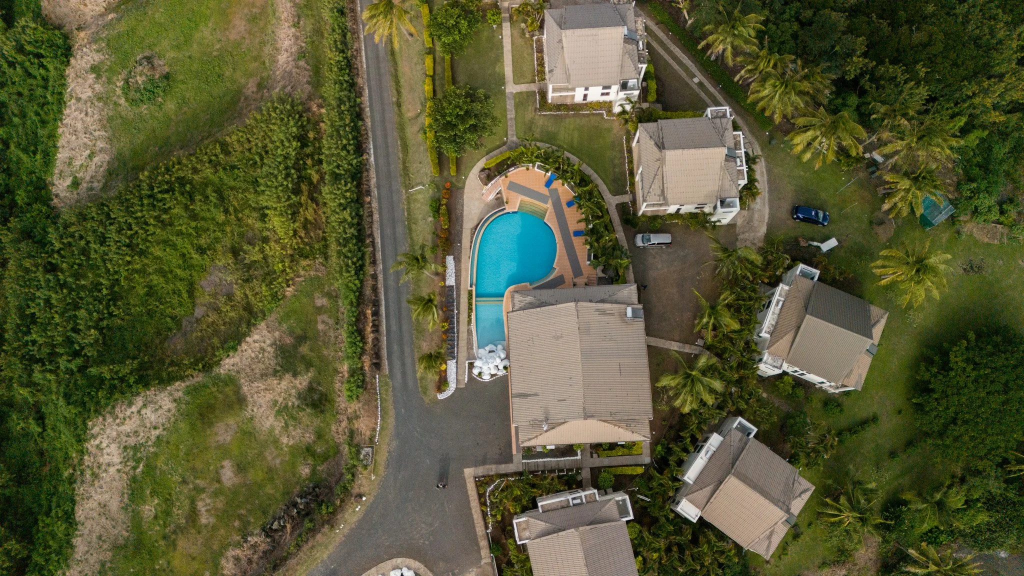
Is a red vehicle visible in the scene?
No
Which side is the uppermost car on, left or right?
right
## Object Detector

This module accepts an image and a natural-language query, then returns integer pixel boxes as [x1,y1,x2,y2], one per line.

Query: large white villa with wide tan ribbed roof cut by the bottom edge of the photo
[513,486,643,576]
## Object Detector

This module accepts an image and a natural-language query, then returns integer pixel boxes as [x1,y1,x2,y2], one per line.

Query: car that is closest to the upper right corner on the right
[792,205,830,227]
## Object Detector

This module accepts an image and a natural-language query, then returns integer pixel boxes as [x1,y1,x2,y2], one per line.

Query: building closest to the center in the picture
[508,284,654,449]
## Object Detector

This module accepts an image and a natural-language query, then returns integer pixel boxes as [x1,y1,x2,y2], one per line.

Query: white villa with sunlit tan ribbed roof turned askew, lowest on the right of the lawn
[671,417,815,559]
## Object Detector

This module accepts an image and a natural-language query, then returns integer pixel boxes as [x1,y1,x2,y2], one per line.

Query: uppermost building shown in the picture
[544,0,648,108]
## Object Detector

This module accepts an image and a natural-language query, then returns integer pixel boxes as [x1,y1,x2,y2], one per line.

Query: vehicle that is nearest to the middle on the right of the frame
[635,231,672,248]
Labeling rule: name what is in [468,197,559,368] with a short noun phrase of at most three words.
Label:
swimming pool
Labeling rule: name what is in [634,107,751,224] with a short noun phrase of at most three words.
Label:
house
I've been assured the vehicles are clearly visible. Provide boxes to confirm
[635,231,672,248]
[792,205,830,227]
